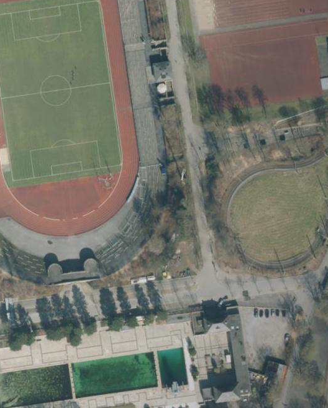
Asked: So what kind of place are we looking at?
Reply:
sports ground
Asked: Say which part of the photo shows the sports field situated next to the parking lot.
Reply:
right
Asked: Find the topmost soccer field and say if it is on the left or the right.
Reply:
left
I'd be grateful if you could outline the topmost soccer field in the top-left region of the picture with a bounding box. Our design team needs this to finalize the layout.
[0,0,124,189]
